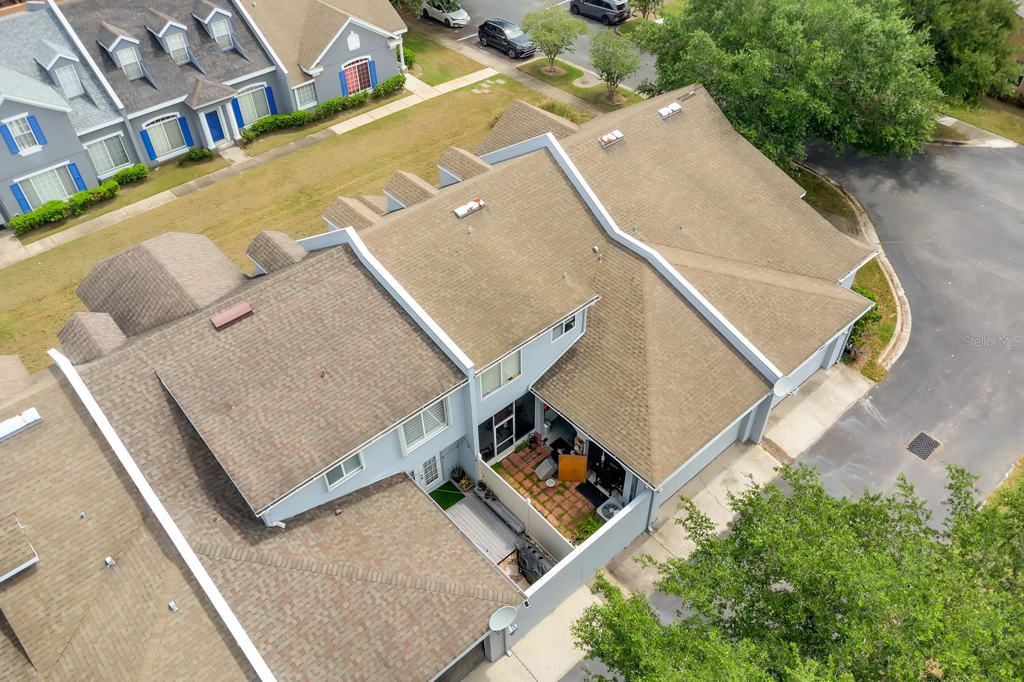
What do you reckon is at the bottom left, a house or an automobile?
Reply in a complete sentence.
The feature located at the bottom left is a house.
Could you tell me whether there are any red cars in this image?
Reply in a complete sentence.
No, the photo shows no red car.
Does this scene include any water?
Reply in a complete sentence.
No, there's no water in this view.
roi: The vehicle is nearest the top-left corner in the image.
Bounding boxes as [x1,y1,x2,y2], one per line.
[418,0,473,28]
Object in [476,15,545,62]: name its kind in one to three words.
car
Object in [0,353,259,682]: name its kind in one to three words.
house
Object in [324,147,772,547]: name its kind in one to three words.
house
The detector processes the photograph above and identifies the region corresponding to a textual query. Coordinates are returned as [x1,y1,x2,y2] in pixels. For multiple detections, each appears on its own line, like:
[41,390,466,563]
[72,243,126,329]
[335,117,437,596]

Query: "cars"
[418,0,473,28]
[476,15,545,62]
[568,0,637,27]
